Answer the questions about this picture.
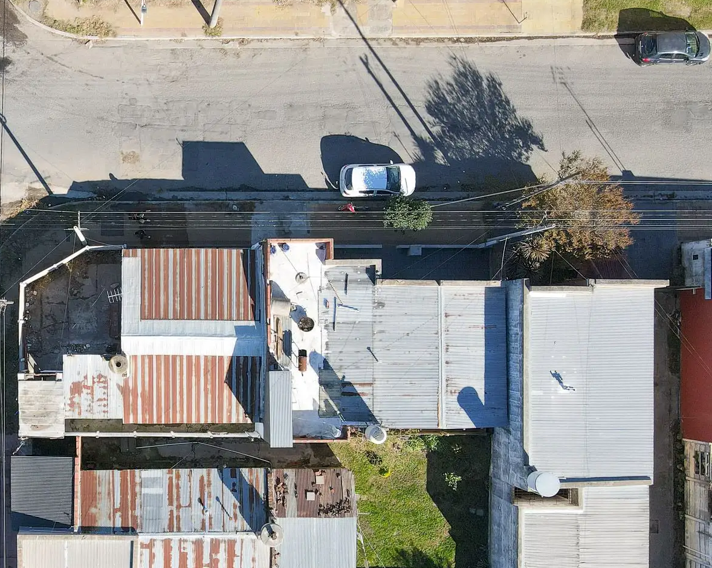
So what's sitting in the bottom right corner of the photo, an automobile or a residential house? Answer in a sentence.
It is a residential house that can be seen in the bottom right corner of the photo.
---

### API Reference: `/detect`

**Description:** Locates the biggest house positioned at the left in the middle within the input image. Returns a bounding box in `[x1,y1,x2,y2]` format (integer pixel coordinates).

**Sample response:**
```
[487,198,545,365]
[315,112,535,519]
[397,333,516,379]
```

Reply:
[63,245,264,441]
